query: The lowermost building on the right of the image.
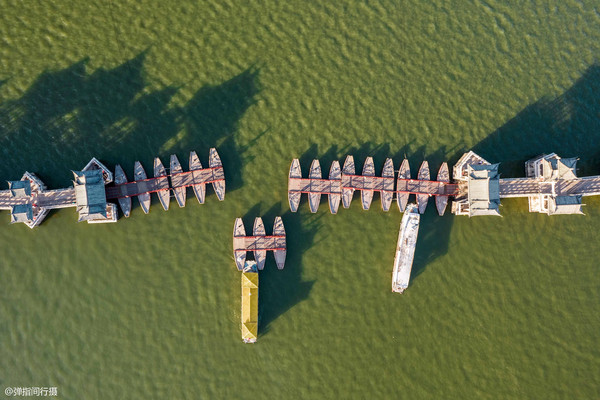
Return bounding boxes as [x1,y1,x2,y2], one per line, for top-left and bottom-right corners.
[544,193,587,216]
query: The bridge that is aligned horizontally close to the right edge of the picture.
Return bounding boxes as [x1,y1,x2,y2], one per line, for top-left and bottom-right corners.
[448,151,600,215]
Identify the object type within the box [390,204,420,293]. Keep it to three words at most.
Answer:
boat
